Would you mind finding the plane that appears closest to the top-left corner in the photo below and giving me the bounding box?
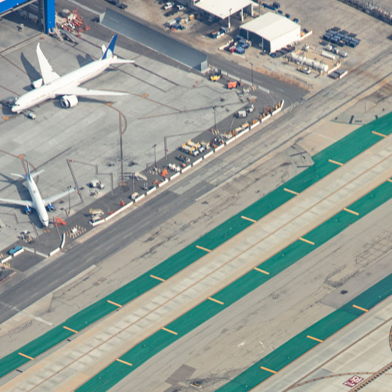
[13,33,134,115]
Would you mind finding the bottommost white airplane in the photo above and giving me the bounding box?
[0,158,76,227]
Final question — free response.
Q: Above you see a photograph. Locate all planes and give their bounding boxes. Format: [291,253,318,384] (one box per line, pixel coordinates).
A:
[13,33,134,115]
[0,158,76,227]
